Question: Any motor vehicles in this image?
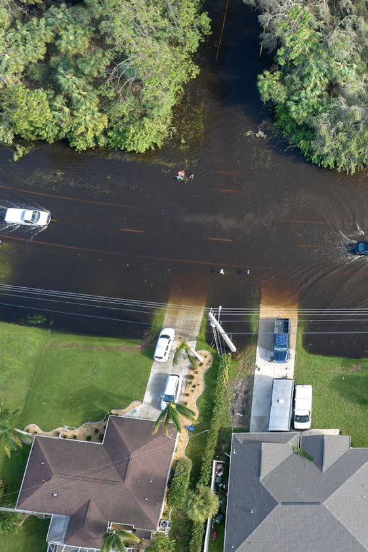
Yes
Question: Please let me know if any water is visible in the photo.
Yes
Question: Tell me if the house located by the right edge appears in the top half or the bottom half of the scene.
bottom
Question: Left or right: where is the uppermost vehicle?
left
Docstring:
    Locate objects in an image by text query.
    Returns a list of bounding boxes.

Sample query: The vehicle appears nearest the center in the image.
[151,327,177,362]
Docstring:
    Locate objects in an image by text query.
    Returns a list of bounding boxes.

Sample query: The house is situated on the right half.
[225,433,368,552]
